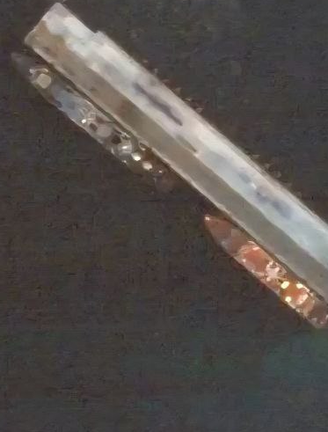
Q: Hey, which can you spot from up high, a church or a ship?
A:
ship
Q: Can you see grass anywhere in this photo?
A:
No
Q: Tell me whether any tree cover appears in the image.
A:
No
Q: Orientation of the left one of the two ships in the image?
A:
diagonally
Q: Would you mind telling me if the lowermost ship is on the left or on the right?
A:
right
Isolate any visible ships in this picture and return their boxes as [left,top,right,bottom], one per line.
[206,216,328,335]
[11,51,176,196]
